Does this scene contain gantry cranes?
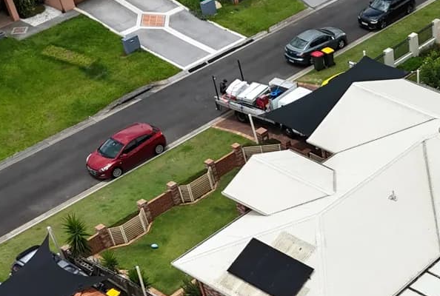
No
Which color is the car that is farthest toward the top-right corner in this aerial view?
black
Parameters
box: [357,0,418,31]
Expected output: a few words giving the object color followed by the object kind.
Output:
black car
